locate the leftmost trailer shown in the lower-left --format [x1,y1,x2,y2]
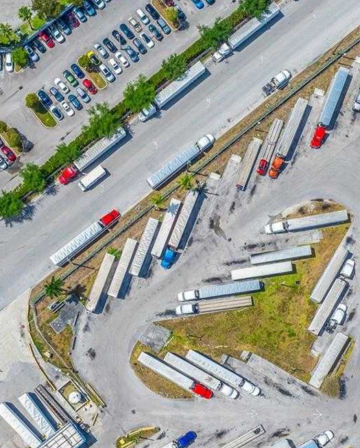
[0,403,35,448]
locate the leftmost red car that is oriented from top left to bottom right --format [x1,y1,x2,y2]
[1,147,16,163]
